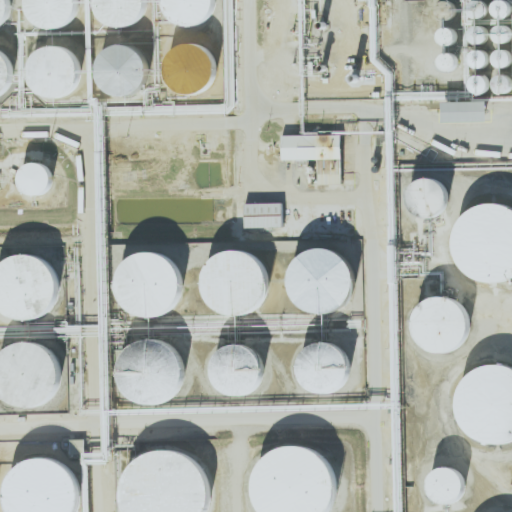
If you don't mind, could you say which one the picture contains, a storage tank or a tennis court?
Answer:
storage tank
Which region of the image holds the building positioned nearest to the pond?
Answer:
center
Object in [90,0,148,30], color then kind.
white storage tank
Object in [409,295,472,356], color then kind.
white storage tank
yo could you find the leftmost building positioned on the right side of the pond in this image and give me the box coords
[243,204,282,229]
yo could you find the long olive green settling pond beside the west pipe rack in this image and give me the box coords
[115,198,216,224]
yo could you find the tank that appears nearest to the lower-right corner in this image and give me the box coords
[424,466,468,506]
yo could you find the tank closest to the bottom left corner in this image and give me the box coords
[2,456,82,512]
